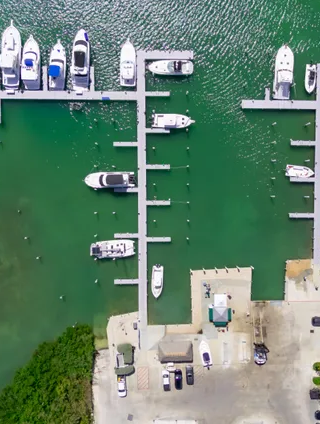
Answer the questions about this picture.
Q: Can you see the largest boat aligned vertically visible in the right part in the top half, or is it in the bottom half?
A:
top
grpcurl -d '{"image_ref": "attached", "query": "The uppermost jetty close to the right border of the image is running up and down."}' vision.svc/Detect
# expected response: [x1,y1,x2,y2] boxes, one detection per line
[241,64,320,259]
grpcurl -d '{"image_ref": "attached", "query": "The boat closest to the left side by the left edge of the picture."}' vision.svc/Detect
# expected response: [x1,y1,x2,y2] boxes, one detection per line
[0,15,22,91]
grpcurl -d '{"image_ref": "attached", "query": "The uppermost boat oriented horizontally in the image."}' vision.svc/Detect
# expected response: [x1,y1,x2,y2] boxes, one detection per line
[148,59,193,80]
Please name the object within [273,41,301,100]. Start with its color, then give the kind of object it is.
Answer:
white boat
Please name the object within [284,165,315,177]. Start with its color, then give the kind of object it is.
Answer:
white boat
